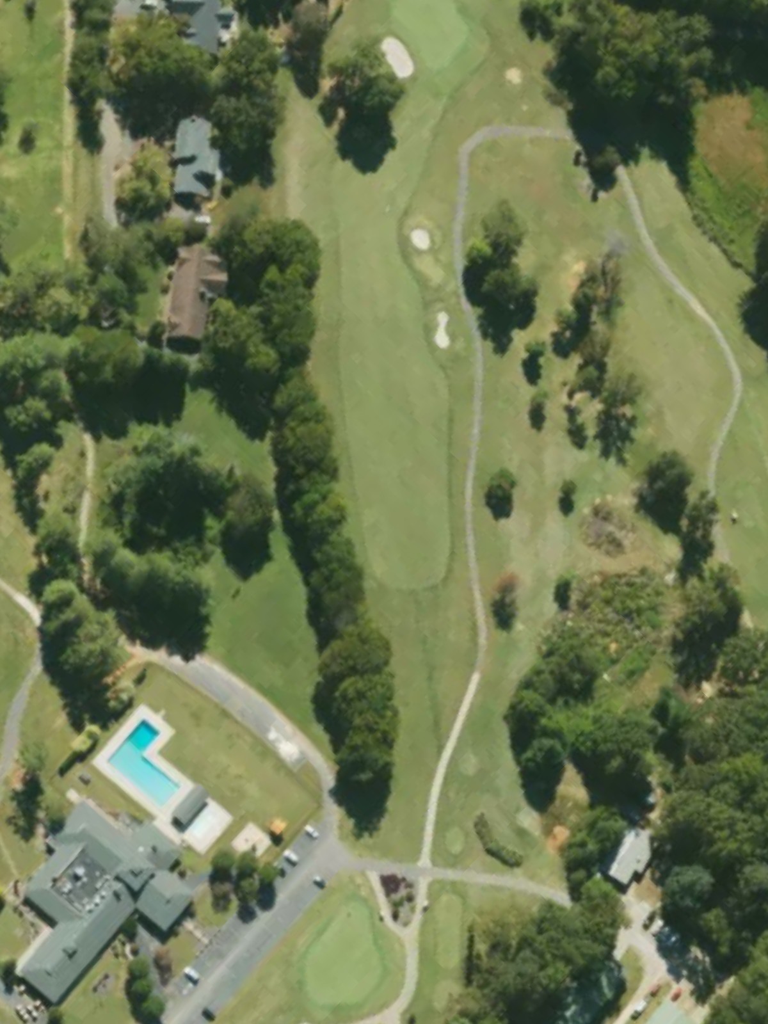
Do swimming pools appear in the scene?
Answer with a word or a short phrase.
Yes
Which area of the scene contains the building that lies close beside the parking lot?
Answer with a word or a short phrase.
bottom left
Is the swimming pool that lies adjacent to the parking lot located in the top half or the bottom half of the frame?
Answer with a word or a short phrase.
bottom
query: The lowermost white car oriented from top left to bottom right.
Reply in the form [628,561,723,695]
[184,968,199,981]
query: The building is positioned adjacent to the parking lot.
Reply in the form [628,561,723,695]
[18,802,193,1003]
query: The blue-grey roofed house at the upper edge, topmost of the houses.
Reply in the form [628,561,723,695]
[165,0,233,50]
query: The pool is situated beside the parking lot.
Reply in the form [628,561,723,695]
[93,705,233,854]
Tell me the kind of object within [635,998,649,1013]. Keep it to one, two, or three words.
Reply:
car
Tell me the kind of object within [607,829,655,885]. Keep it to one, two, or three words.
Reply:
house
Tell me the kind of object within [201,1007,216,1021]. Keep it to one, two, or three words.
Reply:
car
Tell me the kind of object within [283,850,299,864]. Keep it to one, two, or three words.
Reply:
vehicle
